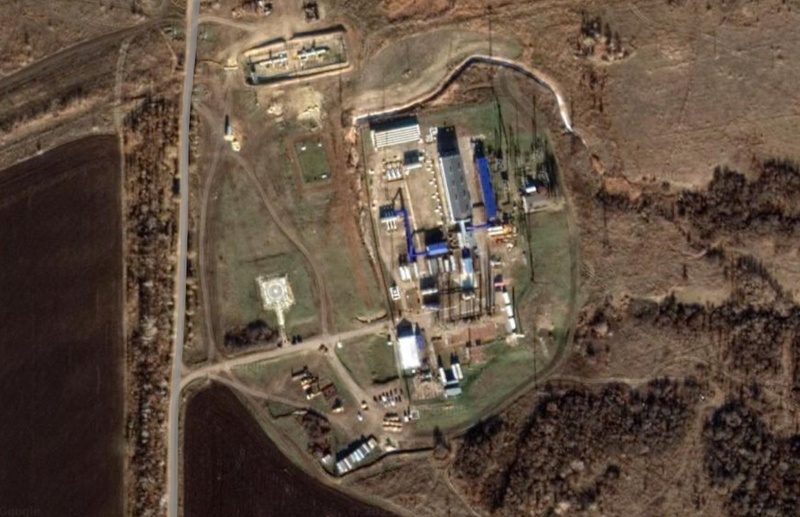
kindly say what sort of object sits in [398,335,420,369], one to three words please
building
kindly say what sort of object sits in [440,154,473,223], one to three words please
building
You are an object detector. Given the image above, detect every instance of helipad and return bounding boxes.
[262,278,293,326]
